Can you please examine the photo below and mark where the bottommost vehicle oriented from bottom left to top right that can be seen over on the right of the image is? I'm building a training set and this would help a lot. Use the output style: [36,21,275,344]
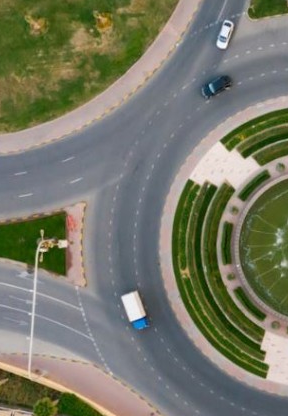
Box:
[201,74,232,99]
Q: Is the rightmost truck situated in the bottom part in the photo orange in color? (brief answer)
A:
No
